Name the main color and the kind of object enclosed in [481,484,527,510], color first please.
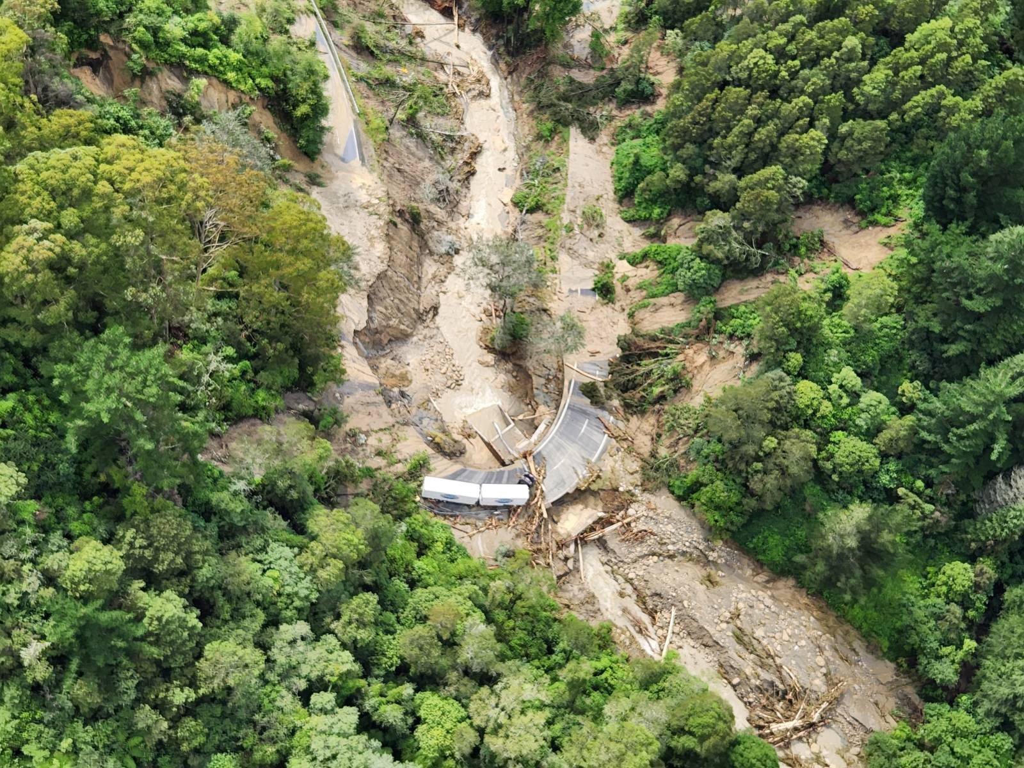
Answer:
white trailer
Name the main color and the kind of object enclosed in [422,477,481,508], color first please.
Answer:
white trailer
